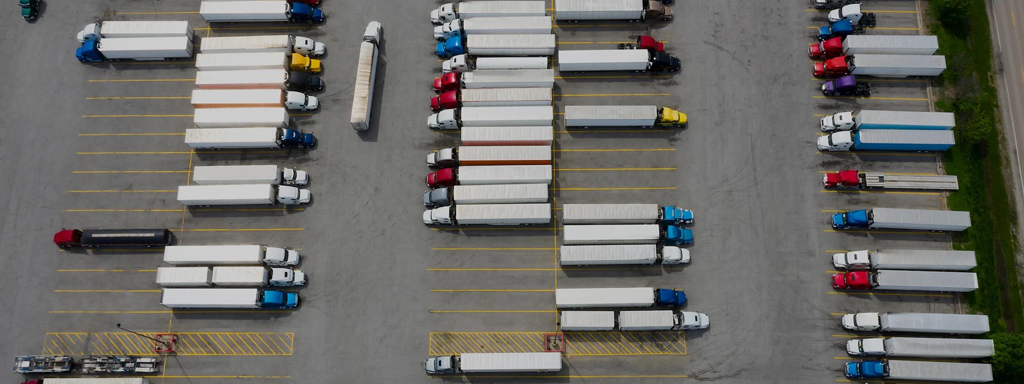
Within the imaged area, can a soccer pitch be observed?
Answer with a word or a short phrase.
No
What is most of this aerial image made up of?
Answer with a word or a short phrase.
paved ground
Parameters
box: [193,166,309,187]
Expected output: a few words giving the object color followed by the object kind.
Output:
white truck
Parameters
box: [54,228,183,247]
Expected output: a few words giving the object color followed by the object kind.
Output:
black vehicle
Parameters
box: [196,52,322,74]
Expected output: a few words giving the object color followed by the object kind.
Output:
white truck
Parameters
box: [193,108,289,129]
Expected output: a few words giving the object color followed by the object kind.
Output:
white trailer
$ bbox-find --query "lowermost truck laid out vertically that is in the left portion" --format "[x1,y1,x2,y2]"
[351,21,381,132]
